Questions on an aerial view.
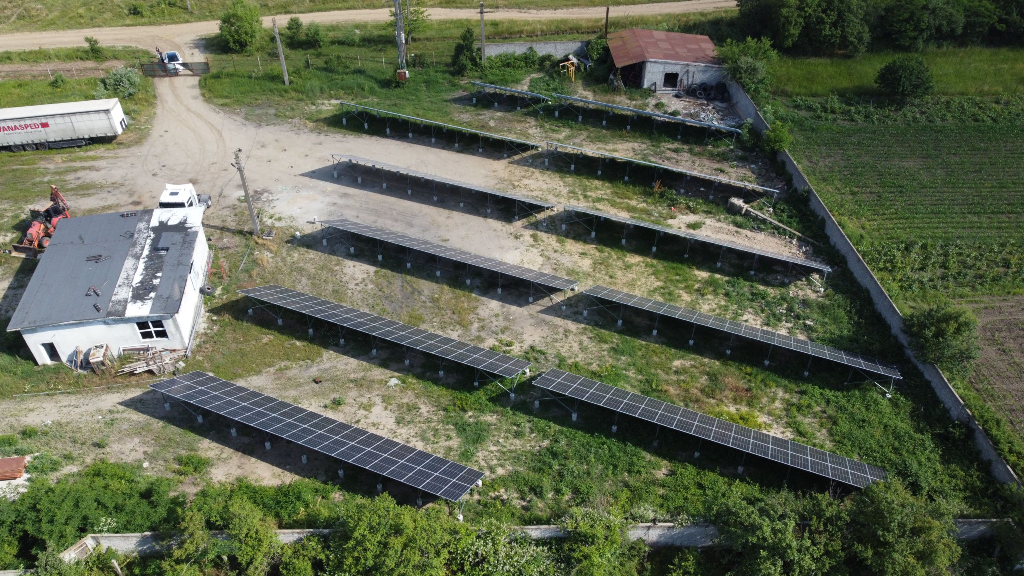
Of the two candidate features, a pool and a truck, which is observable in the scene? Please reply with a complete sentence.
Of the two, only a truck appears.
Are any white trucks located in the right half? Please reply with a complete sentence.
No, in the right half there is no white truck.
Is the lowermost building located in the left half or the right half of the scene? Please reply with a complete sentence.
The lowermost building sits on the left side.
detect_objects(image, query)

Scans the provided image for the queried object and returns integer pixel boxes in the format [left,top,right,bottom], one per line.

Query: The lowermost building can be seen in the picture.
[6,208,208,365]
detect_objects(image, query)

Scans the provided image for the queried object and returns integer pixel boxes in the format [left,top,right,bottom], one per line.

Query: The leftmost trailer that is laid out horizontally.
[0,100,125,151]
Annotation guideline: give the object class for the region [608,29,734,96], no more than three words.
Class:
barn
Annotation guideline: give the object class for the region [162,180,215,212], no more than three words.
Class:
truck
